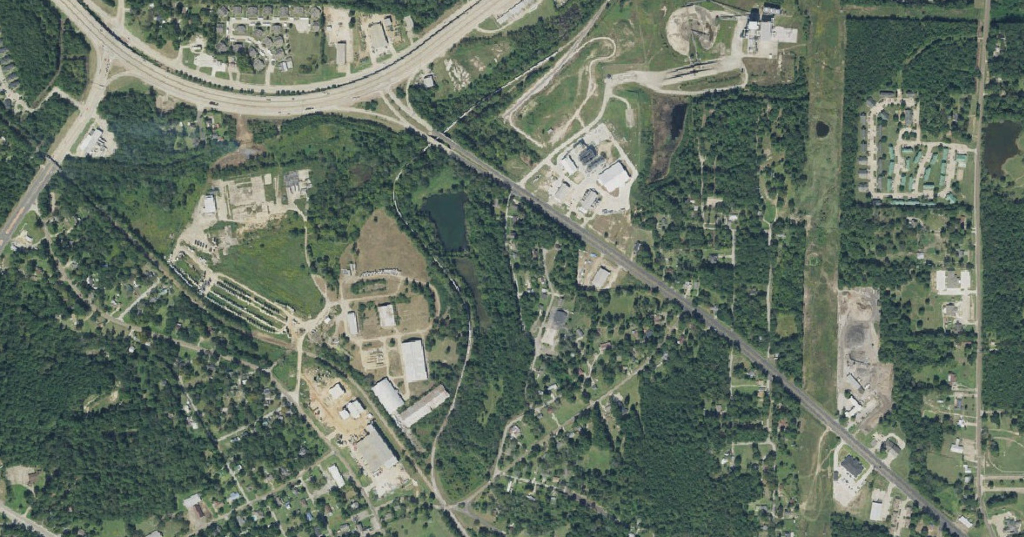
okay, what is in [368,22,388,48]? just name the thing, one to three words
building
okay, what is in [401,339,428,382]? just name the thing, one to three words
building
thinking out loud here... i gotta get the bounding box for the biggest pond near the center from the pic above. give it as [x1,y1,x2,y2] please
[422,191,468,251]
